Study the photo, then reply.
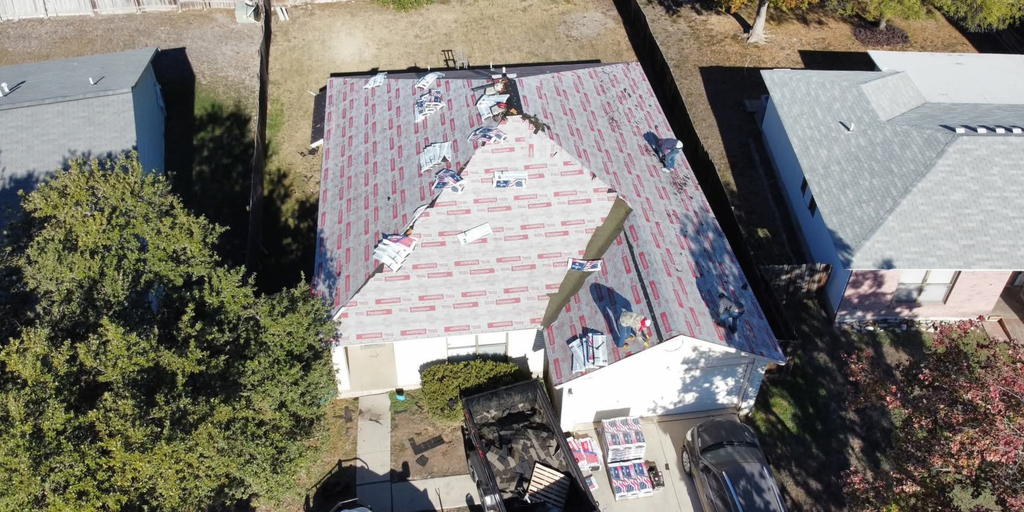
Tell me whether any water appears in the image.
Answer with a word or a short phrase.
No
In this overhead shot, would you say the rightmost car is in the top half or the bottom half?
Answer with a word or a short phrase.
bottom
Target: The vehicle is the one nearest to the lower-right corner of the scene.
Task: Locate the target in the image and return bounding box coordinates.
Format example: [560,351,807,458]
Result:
[683,412,799,512]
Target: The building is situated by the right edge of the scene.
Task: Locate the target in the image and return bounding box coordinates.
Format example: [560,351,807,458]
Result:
[759,51,1024,377]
